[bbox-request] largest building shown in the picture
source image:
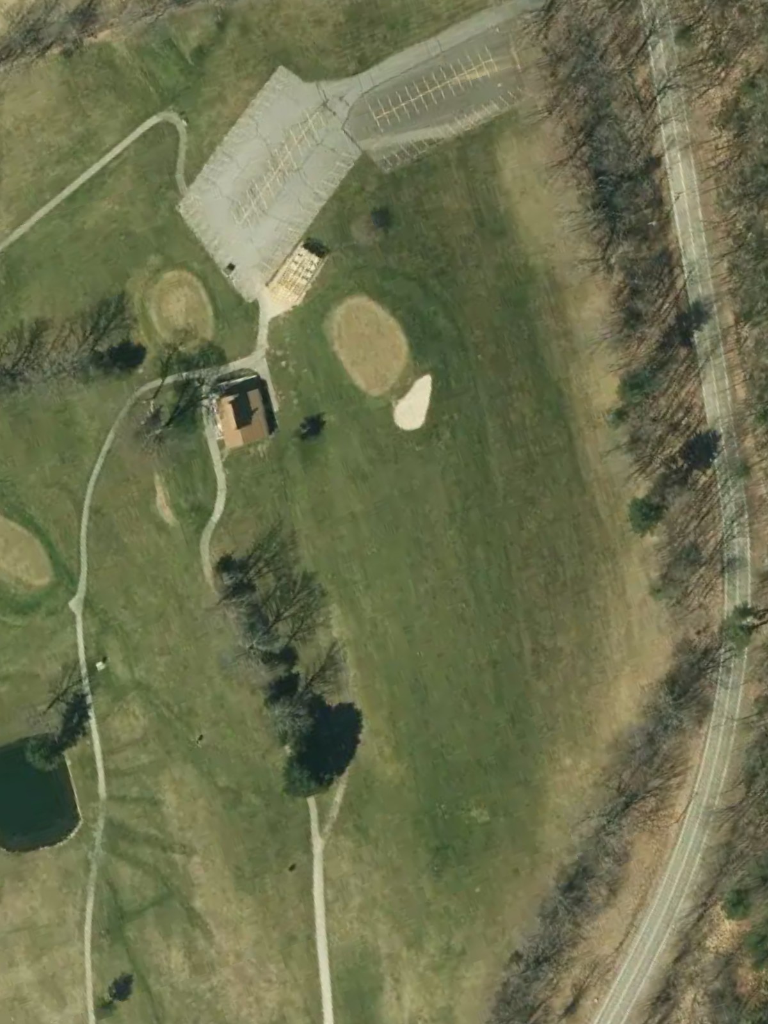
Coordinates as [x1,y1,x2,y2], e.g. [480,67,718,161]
[217,385,271,447]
